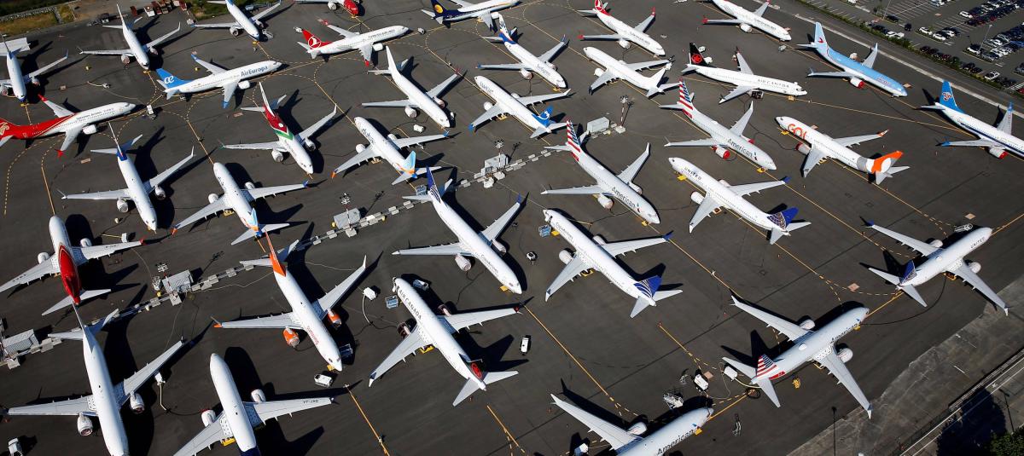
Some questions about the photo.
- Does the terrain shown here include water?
No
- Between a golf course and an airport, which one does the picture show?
airport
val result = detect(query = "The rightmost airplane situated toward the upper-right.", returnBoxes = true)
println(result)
[920,83,1024,164]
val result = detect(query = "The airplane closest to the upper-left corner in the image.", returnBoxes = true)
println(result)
[0,33,74,108]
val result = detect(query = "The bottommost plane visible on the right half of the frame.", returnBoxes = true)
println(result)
[553,392,712,456]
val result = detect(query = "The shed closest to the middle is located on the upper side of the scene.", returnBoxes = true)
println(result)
[478,150,511,175]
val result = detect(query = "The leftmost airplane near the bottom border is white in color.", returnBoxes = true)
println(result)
[0,302,191,456]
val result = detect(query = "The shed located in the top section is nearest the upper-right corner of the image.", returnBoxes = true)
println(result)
[584,116,611,138]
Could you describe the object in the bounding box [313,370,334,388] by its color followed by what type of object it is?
white vehicle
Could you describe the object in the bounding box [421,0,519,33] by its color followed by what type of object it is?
white airplane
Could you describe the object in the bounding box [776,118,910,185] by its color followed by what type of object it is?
white airplane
